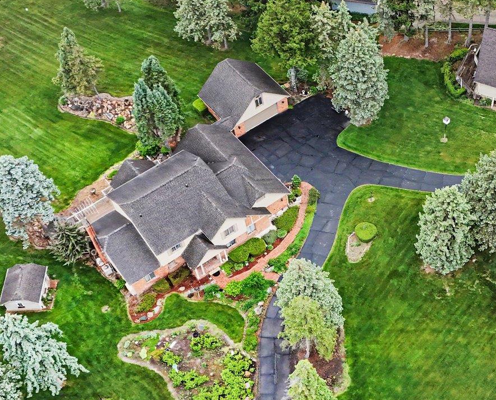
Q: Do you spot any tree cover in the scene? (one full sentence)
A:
Yes, tree cover shows up in the scene.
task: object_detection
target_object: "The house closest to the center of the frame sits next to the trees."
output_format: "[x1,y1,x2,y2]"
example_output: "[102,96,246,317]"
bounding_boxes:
[76,57,292,296]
